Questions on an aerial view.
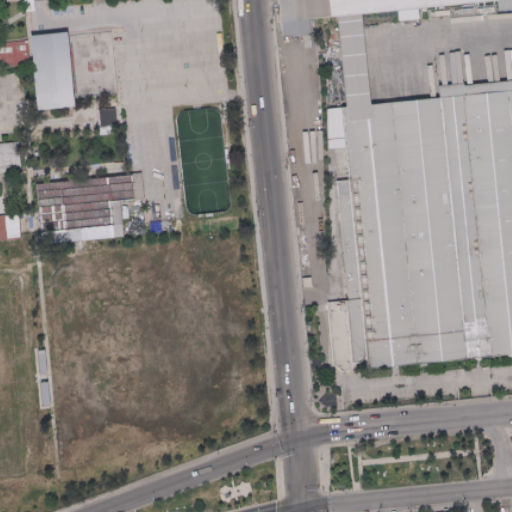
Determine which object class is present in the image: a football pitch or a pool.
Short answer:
football pitch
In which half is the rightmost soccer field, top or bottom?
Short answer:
top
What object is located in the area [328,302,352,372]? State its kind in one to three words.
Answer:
building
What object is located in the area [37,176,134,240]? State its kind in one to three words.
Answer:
building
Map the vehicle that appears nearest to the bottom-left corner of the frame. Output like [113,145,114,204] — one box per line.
[192,464,214,476]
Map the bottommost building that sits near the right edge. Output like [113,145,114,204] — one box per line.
[347,80,512,368]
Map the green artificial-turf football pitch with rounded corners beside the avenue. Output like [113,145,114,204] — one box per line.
[176,104,230,216]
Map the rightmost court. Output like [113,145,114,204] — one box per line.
[70,30,116,98]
